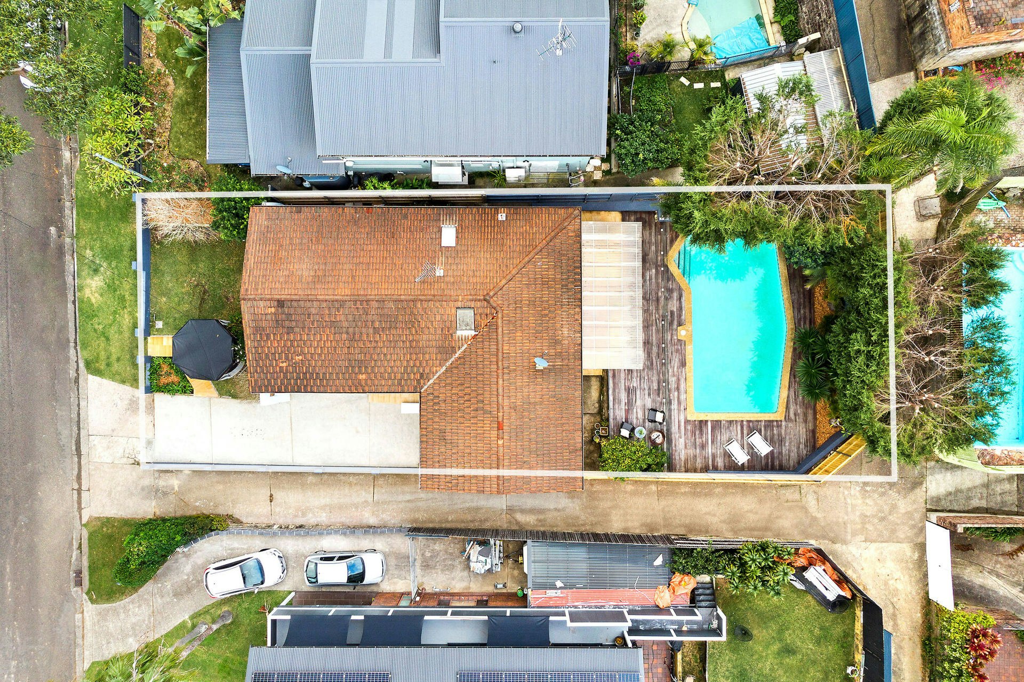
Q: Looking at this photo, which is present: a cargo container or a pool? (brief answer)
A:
pool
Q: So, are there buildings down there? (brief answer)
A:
Yes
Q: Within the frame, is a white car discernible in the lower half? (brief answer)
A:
Yes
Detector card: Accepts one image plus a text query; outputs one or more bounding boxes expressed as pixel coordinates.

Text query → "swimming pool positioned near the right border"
[960,245,1024,450]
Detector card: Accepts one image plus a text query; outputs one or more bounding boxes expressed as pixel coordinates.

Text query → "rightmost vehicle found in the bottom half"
[303,549,385,592]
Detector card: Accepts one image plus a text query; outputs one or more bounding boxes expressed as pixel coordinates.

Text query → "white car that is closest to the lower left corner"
[199,549,290,601]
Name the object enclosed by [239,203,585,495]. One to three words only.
house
